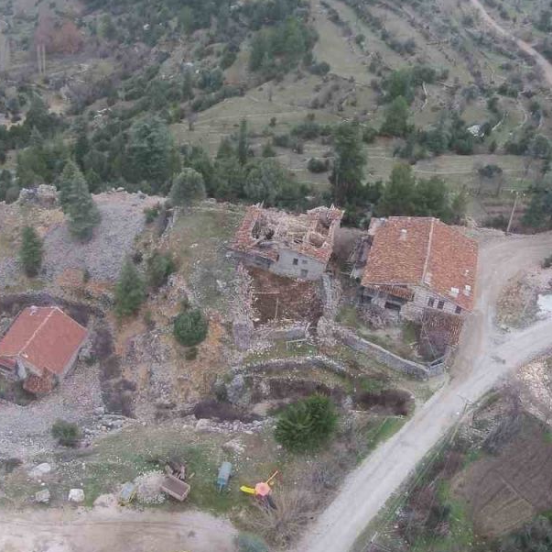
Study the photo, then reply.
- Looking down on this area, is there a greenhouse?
No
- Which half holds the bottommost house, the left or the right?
left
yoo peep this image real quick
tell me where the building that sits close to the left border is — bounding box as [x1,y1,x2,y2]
[0,306,88,409]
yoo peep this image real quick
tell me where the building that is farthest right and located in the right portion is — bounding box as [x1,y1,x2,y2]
[360,216,479,350]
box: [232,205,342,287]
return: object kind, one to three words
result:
house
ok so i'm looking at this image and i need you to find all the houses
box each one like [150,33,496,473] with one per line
[360,216,479,350]
[0,306,88,409]
[232,205,342,287]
